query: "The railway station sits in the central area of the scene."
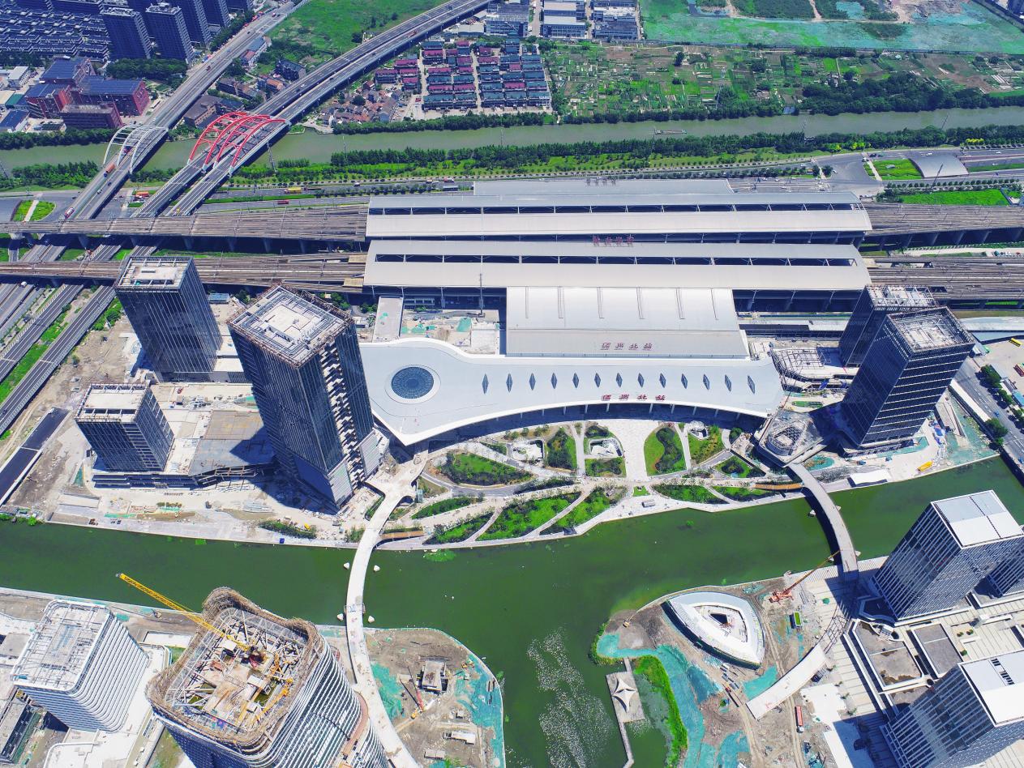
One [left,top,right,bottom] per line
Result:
[343,175,880,451]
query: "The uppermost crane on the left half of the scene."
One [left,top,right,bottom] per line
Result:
[118,574,277,665]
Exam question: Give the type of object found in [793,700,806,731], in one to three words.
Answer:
vehicle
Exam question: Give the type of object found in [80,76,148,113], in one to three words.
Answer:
building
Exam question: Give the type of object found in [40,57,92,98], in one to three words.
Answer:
building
